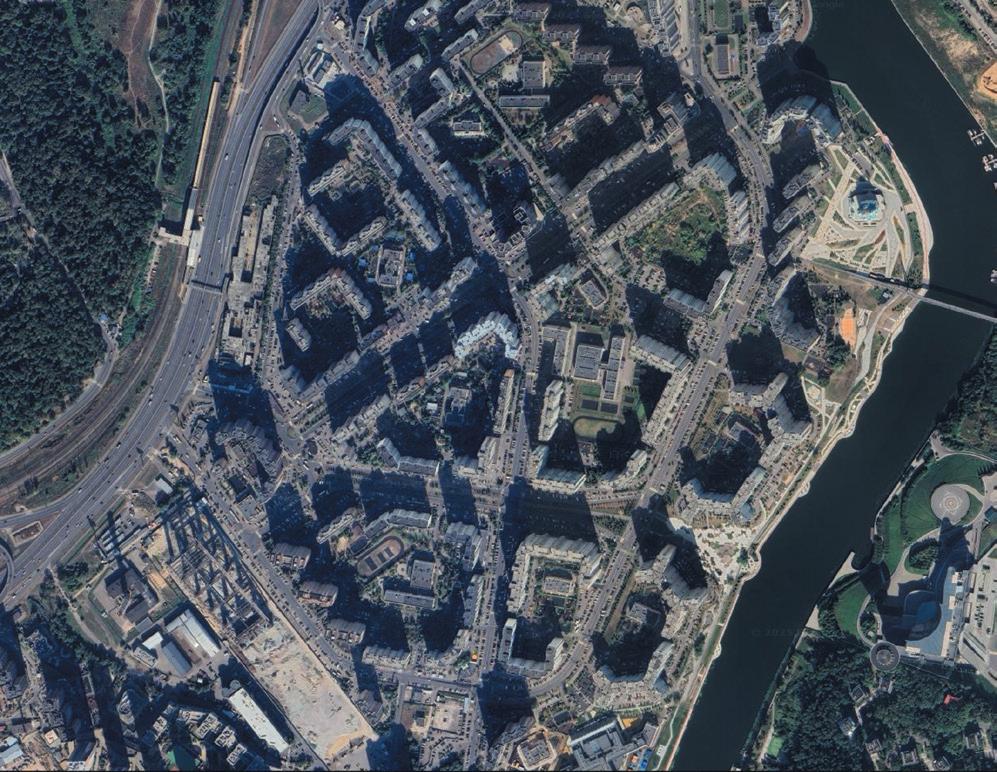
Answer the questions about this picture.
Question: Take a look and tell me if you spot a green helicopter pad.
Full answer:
No, I find no green helicopter pad anywhere in the image.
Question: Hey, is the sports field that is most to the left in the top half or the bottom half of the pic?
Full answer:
The bottom half of the photo is where the sports field that is most to the left is.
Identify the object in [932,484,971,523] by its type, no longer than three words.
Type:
helipad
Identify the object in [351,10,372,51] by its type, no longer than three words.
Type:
building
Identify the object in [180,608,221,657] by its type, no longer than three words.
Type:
shed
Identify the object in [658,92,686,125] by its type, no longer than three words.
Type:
building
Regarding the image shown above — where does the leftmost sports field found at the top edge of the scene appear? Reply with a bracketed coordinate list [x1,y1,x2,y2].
[462,22,533,84]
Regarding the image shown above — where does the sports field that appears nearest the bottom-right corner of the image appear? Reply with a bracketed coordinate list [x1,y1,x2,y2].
[571,384,646,440]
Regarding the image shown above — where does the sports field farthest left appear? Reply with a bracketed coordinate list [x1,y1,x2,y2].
[349,529,410,583]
